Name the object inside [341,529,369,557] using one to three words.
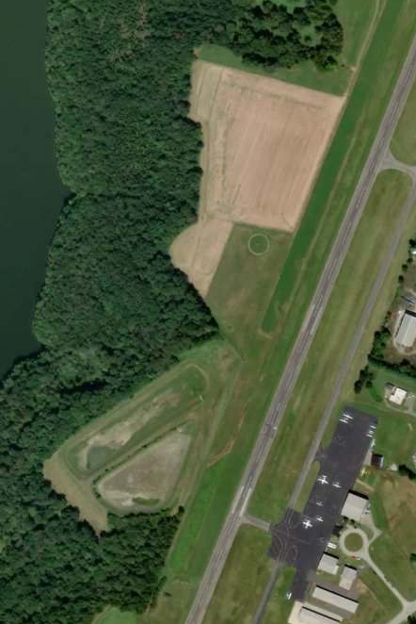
roundabout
